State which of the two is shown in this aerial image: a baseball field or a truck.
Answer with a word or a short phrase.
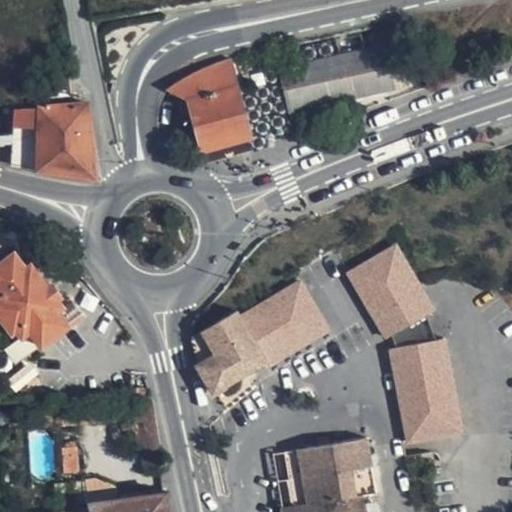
truck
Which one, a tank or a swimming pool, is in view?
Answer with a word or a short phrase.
swimming pool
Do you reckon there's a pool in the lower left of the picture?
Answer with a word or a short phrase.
Yes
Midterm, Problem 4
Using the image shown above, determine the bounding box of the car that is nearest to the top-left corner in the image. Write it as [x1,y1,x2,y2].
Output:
[160,103,172,126]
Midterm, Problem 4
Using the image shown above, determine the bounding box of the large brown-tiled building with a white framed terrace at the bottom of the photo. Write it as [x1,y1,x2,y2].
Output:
[272,438,381,512]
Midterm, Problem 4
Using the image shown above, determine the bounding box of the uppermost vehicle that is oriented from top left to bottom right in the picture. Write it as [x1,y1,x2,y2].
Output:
[321,256,341,280]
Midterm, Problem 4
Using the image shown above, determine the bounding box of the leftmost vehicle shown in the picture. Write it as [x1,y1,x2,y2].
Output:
[38,358,61,370]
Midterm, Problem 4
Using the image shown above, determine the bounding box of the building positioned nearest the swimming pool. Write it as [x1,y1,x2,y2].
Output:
[62,442,80,474]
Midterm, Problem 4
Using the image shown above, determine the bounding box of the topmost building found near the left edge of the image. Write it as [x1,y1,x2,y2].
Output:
[12,102,98,182]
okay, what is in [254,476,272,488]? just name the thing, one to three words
vehicle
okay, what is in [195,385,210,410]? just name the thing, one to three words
vehicle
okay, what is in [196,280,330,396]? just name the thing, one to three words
building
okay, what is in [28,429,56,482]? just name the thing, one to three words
swimming pool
